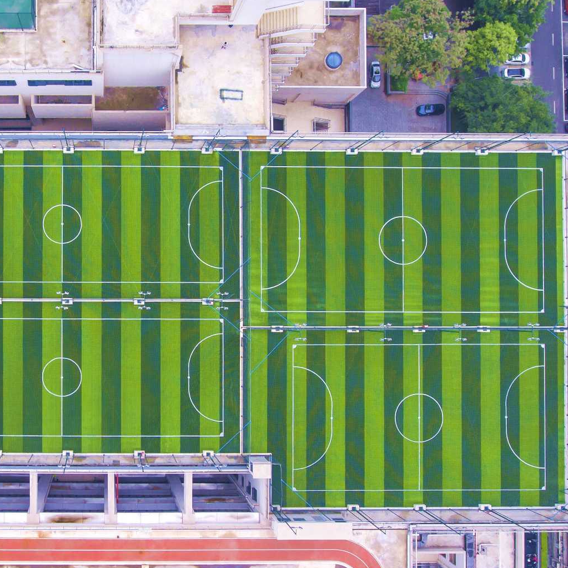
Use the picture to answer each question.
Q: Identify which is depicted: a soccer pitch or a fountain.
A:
soccer pitch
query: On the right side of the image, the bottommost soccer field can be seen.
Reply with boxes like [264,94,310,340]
[245,331,565,508]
